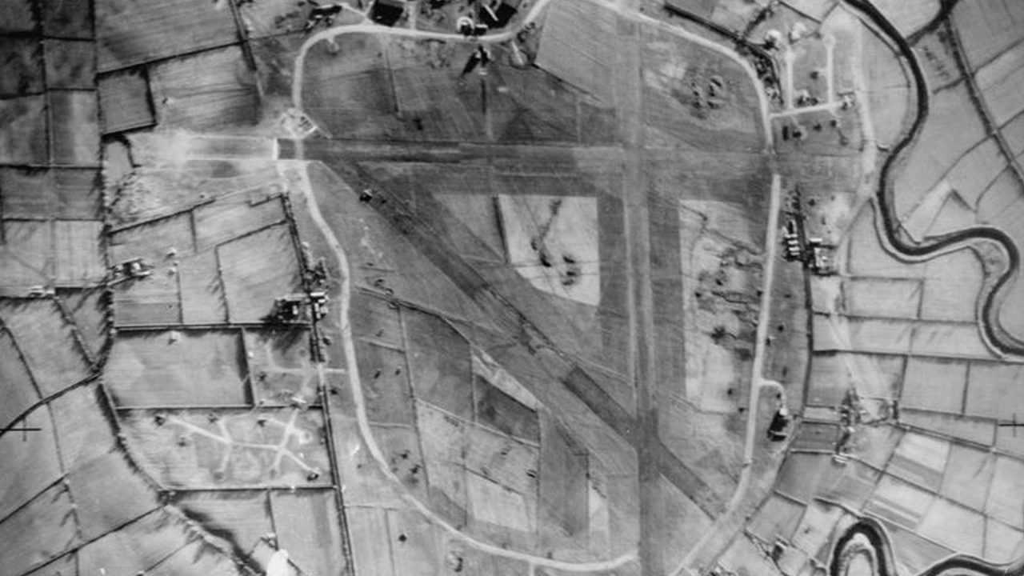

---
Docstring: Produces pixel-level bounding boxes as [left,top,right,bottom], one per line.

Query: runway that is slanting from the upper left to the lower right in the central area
[322,145,725,520]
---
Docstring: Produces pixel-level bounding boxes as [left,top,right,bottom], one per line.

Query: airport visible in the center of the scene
[169,0,852,576]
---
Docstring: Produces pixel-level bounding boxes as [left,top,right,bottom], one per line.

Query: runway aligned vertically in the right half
[615,15,663,576]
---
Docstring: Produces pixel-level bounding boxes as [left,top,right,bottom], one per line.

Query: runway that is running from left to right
[279,139,771,172]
